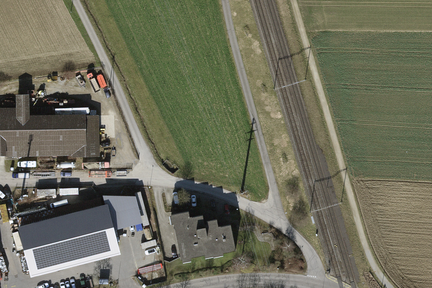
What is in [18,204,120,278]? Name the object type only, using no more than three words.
building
